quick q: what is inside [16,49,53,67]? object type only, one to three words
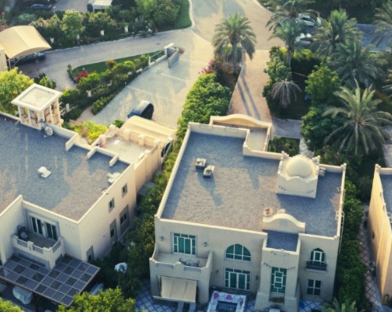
car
